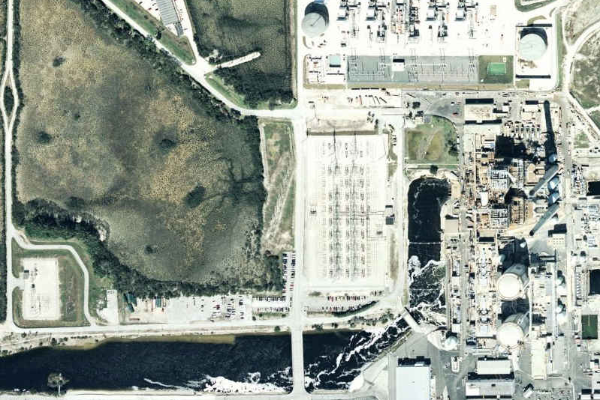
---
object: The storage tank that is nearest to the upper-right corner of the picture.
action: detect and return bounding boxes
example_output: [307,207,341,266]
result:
[519,31,548,60]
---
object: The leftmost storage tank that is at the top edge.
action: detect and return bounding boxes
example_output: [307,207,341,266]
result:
[302,8,331,37]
